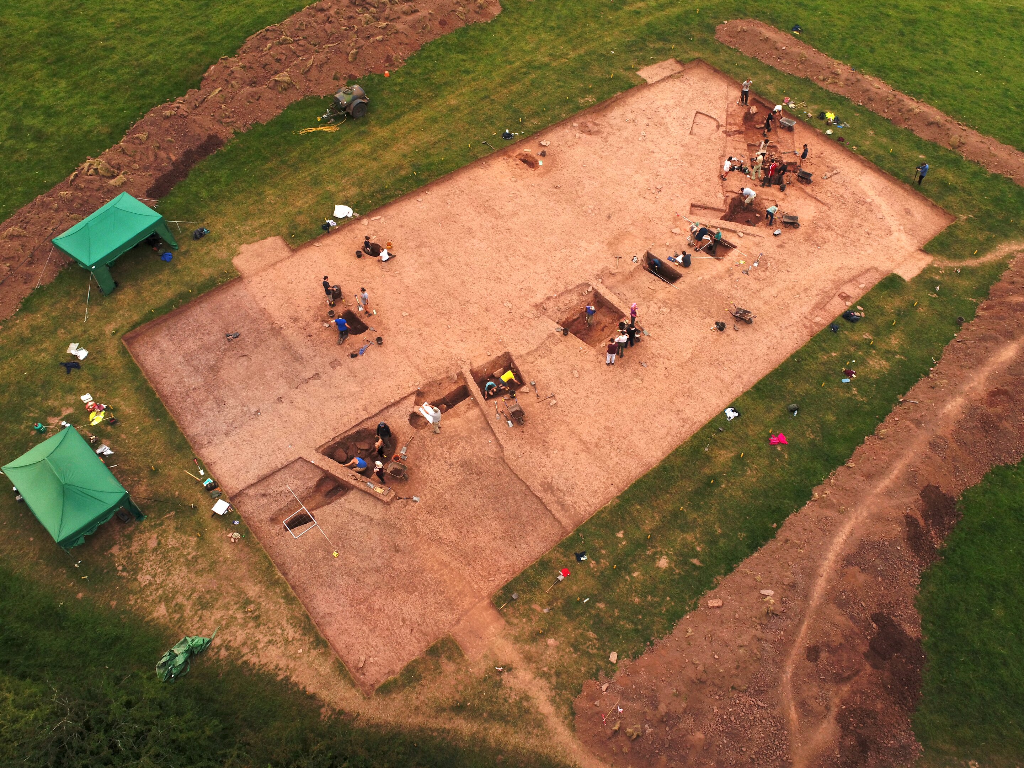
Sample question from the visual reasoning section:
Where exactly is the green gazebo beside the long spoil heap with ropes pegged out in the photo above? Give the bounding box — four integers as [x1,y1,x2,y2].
[19,193,209,322]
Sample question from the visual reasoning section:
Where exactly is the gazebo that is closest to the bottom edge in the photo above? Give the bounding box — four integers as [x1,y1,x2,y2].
[1,425,193,582]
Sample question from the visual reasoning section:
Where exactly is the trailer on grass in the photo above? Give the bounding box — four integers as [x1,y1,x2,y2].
[317,79,368,123]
